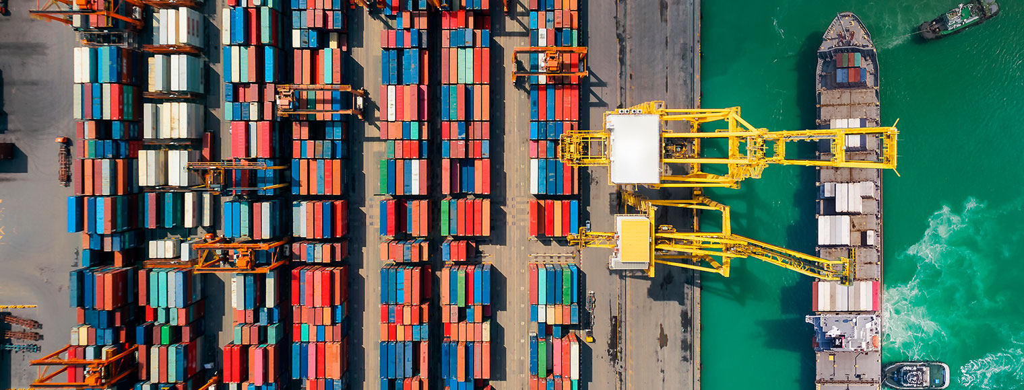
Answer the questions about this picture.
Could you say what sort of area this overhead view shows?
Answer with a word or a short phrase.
port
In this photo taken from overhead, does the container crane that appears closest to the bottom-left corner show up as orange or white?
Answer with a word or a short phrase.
orange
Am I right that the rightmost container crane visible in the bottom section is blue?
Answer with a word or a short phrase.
No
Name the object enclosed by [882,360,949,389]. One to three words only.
boat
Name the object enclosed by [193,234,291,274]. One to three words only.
container crane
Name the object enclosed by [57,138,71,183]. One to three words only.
vehicle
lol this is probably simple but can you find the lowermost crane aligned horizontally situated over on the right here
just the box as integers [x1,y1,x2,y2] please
[567,186,850,293]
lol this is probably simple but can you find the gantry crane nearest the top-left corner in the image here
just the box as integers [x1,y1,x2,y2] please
[28,0,140,27]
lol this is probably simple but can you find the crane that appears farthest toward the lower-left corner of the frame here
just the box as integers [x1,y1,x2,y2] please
[28,341,115,390]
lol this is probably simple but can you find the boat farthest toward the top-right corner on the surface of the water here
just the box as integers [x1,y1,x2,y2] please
[894,0,1000,38]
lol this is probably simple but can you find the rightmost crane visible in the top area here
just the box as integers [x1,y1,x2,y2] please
[558,97,900,191]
